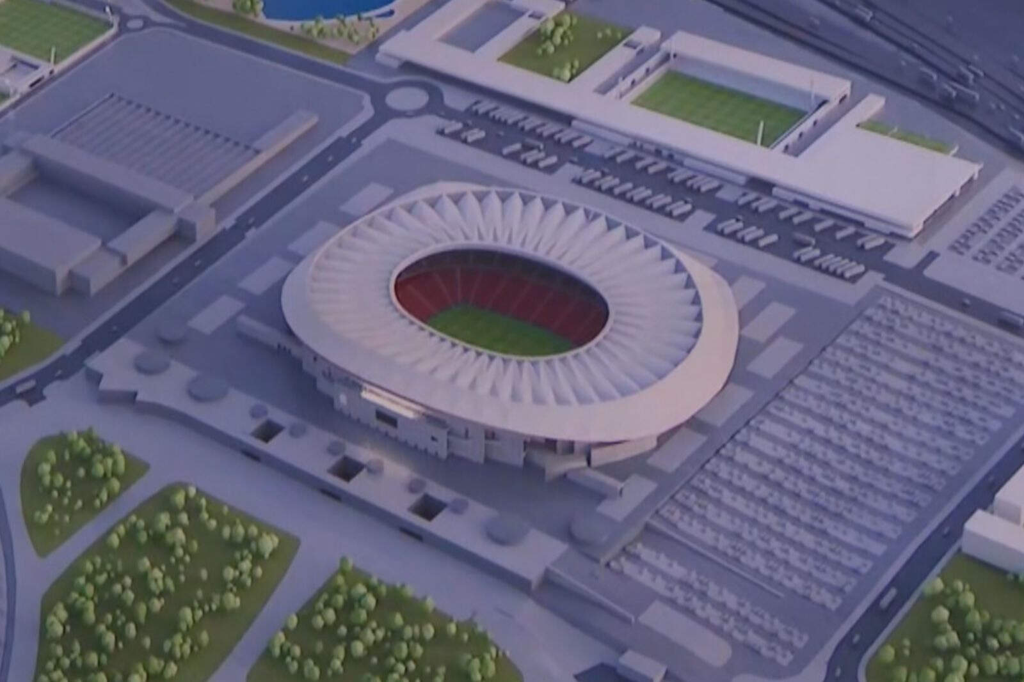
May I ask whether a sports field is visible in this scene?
Yes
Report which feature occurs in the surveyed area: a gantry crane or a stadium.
stadium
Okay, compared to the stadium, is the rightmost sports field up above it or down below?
above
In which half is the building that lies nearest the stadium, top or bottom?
bottom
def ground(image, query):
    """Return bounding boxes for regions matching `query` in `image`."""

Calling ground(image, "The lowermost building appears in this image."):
[618,650,666,682]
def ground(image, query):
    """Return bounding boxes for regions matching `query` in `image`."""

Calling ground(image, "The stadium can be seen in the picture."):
[272,186,741,482]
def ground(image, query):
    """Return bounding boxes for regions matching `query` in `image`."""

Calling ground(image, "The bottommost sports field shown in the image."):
[426,305,580,356]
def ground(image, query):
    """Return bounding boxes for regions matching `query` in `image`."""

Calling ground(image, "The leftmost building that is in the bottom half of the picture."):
[84,337,568,595]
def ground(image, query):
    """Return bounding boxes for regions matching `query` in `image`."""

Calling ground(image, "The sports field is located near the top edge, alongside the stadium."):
[617,30,851,154]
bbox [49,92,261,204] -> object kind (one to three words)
building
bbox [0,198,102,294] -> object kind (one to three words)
building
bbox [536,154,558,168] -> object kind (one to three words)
vehicle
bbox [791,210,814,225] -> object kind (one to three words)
vehicle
